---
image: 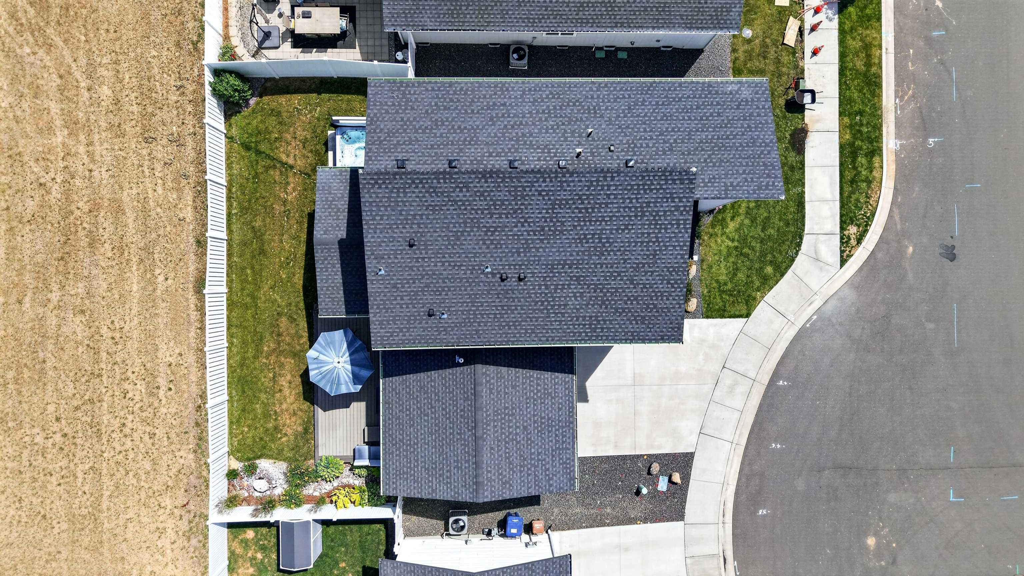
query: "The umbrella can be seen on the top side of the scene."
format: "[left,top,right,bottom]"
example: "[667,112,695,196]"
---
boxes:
[250,2,281,49]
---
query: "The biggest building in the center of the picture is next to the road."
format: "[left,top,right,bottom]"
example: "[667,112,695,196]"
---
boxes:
[314,77,784,502]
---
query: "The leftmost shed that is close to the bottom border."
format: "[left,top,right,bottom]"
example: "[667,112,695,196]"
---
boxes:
[280,520,322,572]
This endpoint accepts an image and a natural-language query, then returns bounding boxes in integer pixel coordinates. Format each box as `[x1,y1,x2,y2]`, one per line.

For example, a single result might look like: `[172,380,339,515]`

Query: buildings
[314,77,784,502]
[377,527,573,576]
[280,520,322,572]
[383,0,742,53]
